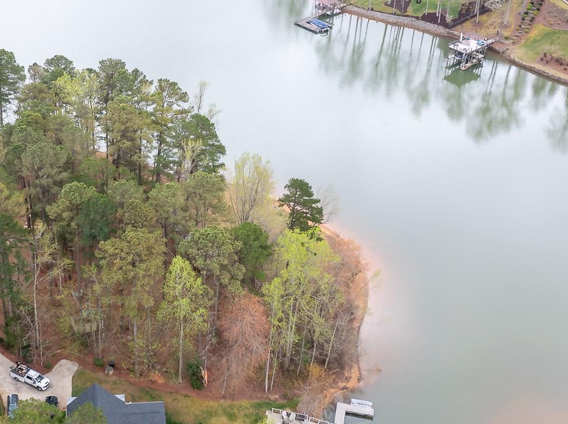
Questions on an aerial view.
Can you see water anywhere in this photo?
Yes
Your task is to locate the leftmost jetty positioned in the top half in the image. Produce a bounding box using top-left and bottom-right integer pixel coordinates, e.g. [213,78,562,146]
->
[295,0,347,35]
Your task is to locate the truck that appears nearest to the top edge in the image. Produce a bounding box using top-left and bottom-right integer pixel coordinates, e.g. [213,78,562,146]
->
[6,355,54,386]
